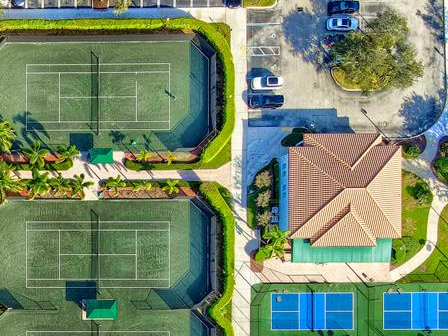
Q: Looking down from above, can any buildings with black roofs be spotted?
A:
No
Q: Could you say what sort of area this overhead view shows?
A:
sports ground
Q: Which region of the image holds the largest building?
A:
right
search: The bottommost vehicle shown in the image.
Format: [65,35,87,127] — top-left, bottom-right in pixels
[249,92,284,107]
